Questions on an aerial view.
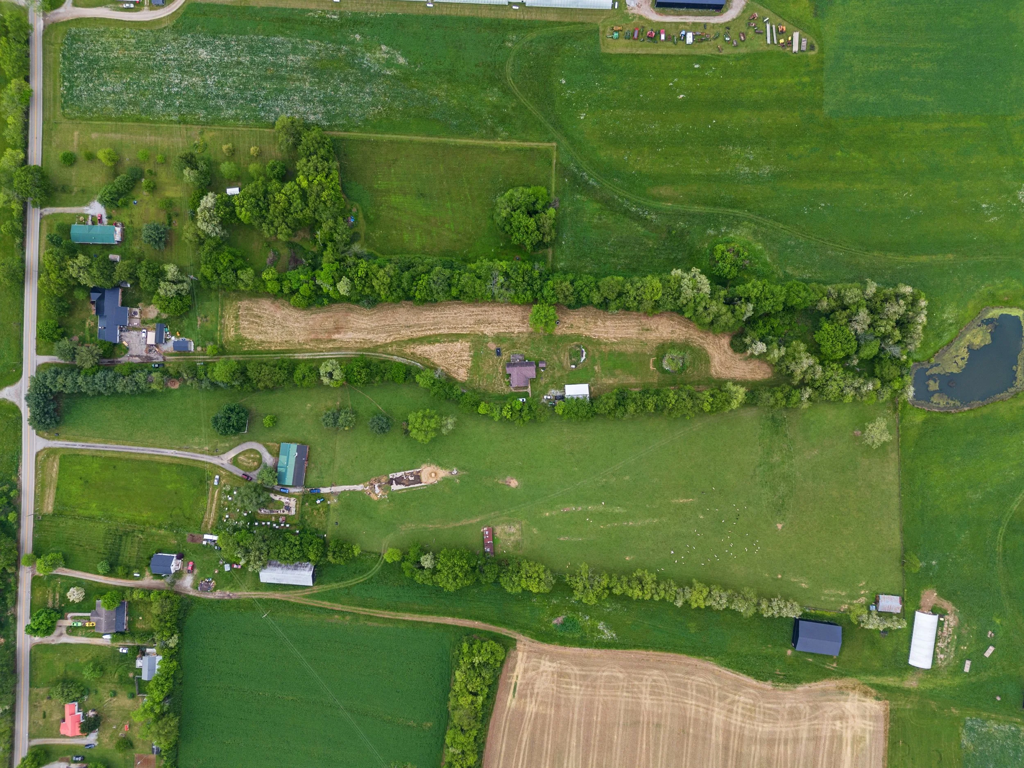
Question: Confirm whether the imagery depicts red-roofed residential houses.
Yes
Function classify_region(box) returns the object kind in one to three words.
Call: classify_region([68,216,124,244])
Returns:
house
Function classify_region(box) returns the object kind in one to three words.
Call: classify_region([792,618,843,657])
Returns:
barn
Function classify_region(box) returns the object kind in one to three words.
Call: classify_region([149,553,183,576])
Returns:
house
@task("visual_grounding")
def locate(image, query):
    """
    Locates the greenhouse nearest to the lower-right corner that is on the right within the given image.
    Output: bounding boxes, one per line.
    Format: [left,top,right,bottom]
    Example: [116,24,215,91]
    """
[908,612,940,671]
